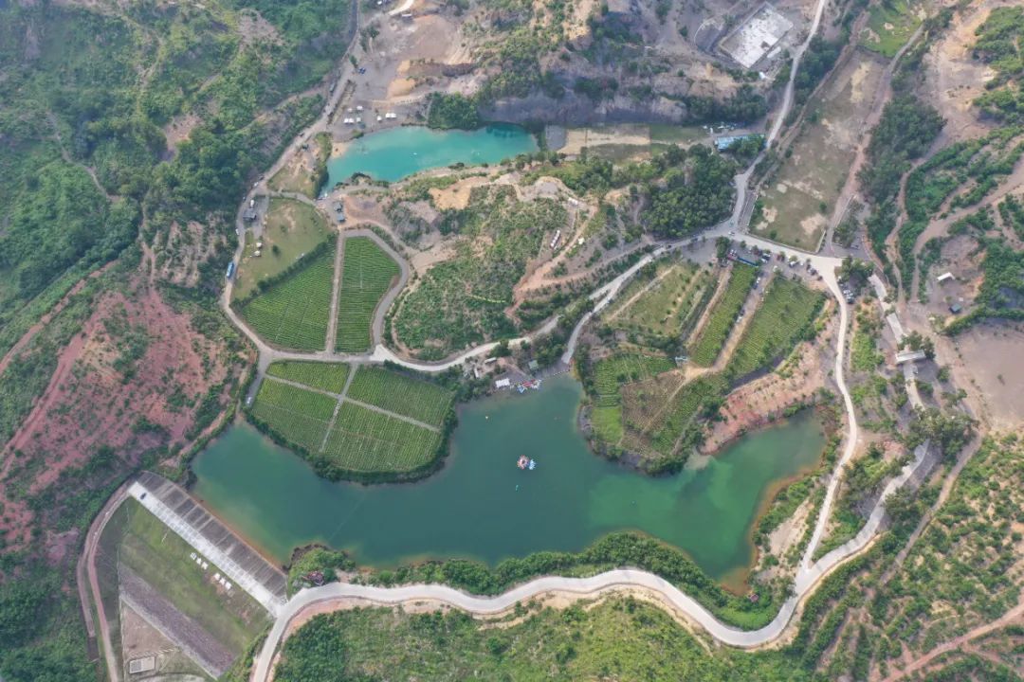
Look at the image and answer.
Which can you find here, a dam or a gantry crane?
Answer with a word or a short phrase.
dam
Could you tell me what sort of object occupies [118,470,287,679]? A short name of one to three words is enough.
dam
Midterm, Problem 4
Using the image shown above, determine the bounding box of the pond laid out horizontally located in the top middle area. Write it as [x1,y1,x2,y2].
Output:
[321,123,537,195]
